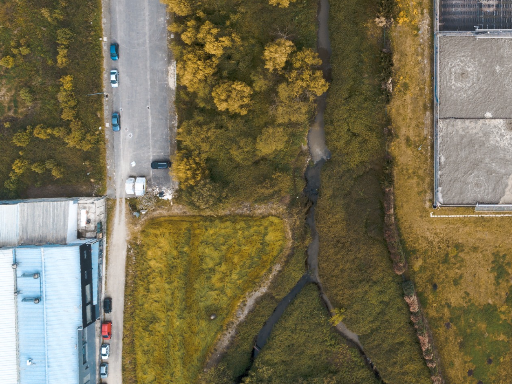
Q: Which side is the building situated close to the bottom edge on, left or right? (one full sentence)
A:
The building situated close to the bottom edge appears in the left half of the scene.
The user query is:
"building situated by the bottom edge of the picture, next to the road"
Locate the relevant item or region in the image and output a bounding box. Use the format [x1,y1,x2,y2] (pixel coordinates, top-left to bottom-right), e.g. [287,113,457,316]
[0,239,99,384]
